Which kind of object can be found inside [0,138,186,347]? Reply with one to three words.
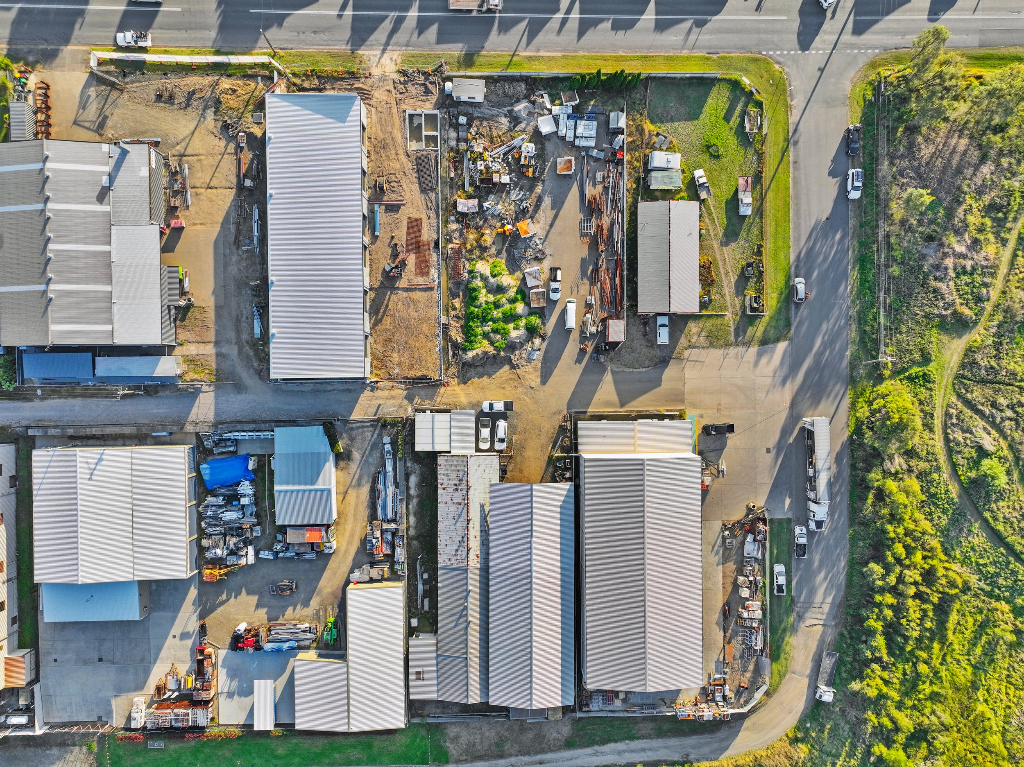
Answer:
warehouse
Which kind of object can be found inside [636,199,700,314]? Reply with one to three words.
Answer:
shed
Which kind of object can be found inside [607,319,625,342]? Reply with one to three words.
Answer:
shed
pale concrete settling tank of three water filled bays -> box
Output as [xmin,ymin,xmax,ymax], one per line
[406,109,440,150]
